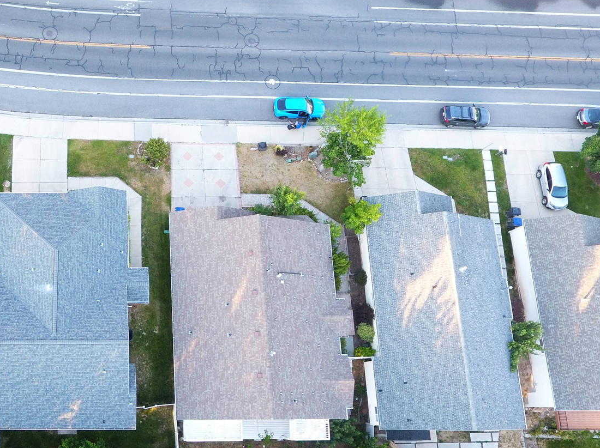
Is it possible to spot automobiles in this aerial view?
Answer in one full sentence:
Yes, looking at the shot, I can spot an automobile.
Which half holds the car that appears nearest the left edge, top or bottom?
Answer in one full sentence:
Seen from above, the car that appears nearest the left edge lies in the top half of the view.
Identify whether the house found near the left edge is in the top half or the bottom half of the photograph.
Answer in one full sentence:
You can find the house found near the left edge in the bottom half.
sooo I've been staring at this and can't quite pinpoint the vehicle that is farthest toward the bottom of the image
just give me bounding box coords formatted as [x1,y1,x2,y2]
[536,161,569,210]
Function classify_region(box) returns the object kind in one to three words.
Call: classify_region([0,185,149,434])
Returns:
house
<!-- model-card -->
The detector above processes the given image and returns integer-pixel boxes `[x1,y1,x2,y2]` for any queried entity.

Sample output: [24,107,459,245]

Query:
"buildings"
[356,189,528,443]
[0,185,149,434]
[169,205,355,441]
[506,214,600,429]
